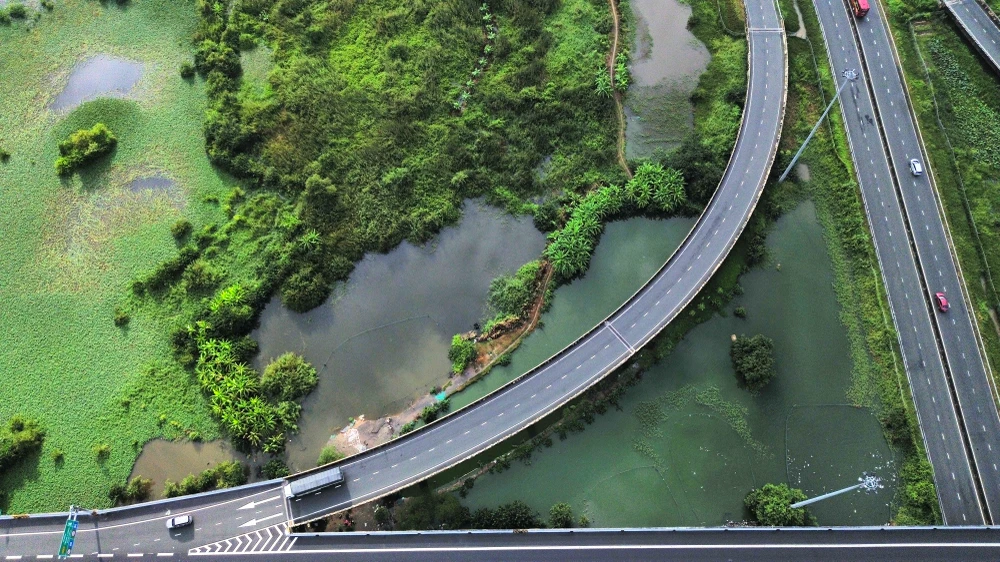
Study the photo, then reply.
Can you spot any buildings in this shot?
No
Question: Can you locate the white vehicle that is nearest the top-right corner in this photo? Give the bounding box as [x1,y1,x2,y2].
[909,158,925,176]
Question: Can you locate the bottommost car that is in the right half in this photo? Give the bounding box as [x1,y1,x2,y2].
[934,291,952,313]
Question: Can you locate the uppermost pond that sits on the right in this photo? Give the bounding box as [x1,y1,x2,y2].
[626,0,715,165]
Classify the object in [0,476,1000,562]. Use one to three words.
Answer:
bridge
